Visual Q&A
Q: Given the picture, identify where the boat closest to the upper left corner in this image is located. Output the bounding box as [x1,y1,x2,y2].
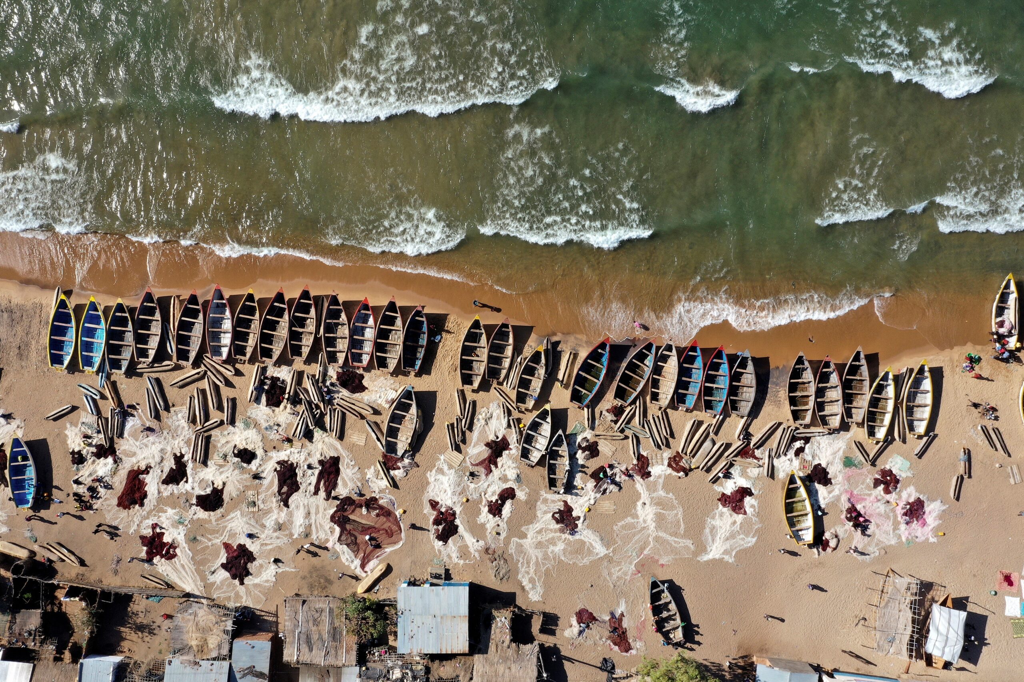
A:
[49,286,61,320]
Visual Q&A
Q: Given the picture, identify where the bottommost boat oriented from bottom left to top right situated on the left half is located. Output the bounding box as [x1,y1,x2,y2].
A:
[359,563,389,594]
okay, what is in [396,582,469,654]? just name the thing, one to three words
house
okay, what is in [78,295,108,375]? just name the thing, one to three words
boat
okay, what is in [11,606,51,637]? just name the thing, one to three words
shed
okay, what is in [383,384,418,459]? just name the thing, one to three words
boat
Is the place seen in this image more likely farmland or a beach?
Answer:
beach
